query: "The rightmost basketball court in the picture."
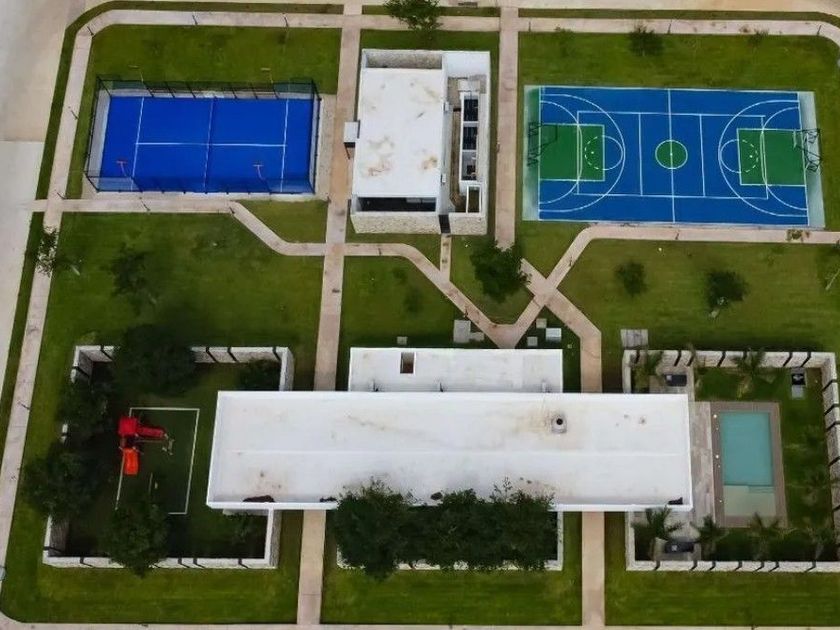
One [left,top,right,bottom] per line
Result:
[523,86,825,227]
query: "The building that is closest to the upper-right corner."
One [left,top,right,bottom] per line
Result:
[350,49,491,234]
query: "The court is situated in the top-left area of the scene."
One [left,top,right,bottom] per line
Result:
[79,76,336,203]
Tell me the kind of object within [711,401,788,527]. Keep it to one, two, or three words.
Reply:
swimming pool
